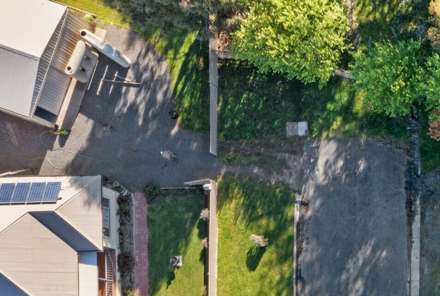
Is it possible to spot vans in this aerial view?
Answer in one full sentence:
No, I can see no van in this picture.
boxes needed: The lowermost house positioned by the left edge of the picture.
[0,174,123,296]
